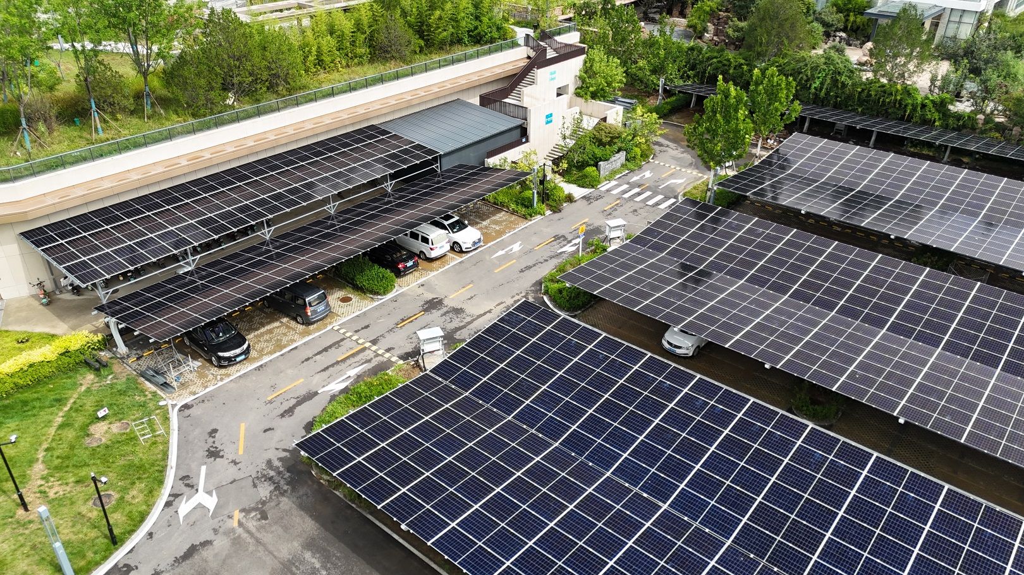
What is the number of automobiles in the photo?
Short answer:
6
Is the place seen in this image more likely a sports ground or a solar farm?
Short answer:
solar farm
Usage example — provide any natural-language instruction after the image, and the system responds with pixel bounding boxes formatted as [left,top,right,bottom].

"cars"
[355,236,418,272]
[181,315,254,366]
[660,326,707,356]
[431,214,486,252]
[398,221,450,258]
[266,276,331,321]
